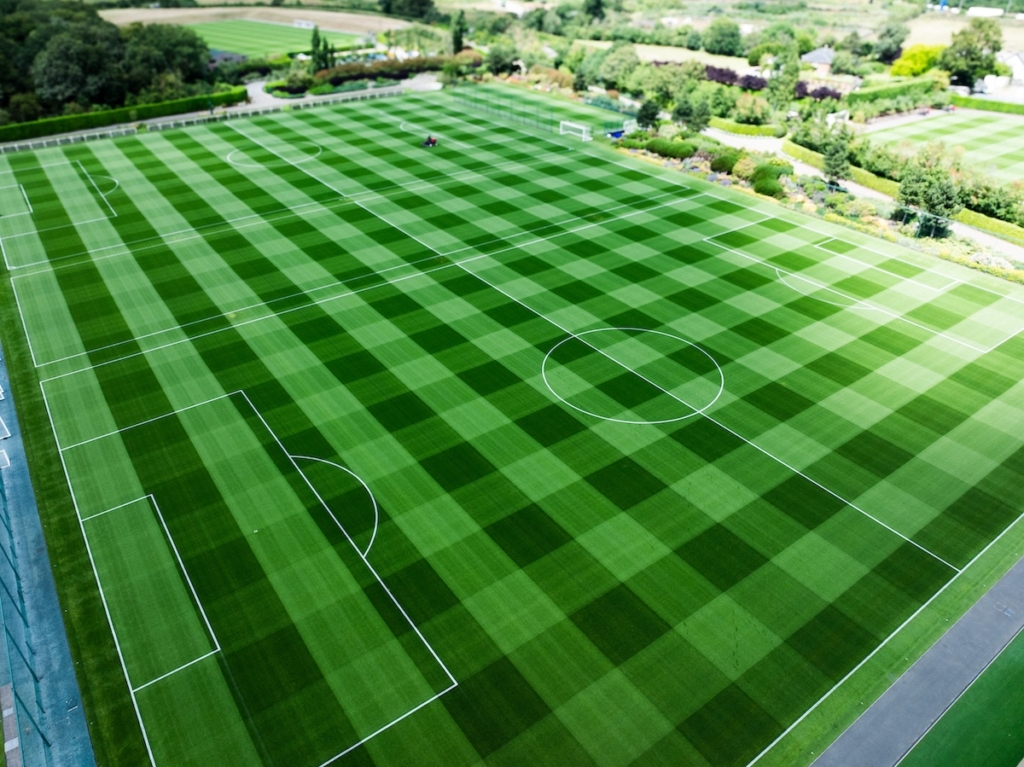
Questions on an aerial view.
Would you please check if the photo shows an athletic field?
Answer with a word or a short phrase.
Yes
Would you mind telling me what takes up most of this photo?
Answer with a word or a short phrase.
grass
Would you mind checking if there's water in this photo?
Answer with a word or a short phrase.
No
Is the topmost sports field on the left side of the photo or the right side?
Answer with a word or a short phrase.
left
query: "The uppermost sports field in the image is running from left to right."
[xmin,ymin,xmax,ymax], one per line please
[179,20,377,68]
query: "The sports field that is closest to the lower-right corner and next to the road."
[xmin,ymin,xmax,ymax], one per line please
[902,633,1024,767]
